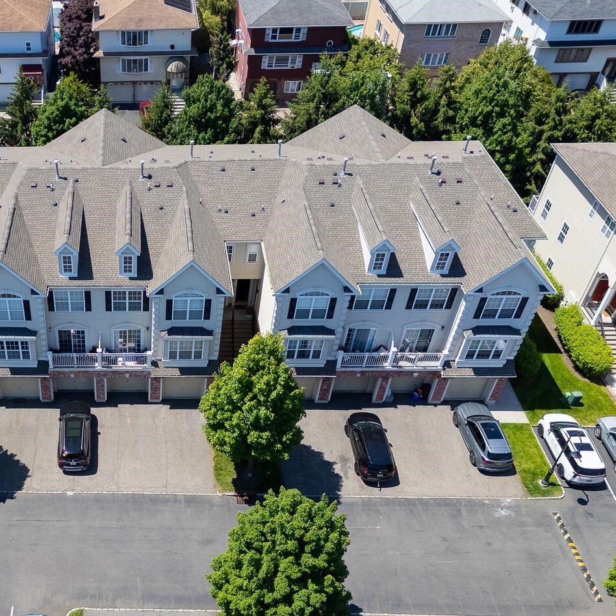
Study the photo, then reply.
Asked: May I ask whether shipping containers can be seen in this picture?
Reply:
No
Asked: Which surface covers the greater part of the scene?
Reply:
buildings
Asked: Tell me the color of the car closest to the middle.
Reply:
black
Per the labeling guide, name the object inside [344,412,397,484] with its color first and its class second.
black car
